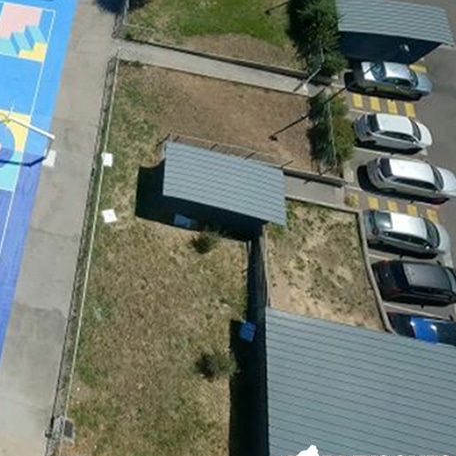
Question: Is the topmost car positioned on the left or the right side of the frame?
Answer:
right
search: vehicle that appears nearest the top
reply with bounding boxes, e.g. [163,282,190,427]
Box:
[344,64,432,104]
